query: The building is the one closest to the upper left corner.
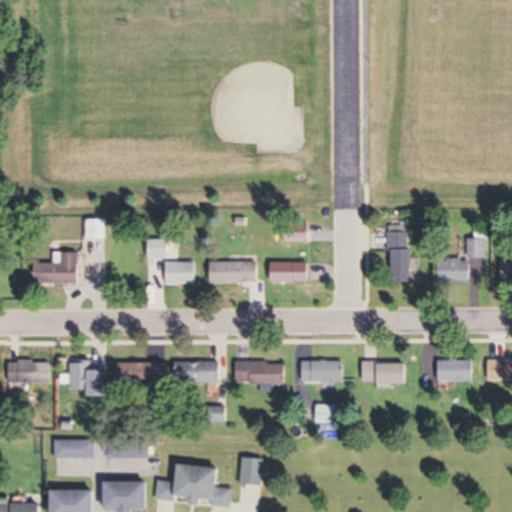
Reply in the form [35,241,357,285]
[84,218,106,240]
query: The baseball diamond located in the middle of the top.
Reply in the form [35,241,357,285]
[212,61,306,154]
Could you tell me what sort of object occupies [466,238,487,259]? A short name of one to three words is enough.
building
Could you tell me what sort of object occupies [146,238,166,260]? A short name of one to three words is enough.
building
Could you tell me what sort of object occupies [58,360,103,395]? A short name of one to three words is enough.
house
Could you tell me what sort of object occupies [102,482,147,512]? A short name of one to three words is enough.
house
